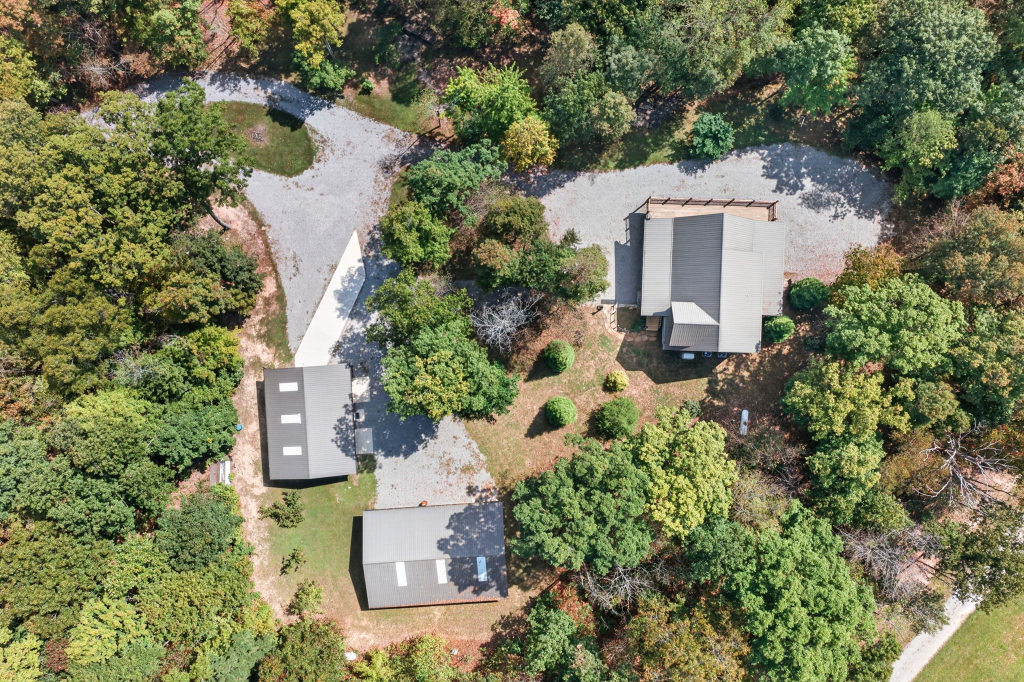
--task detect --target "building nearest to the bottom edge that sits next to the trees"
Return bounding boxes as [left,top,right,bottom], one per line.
[362,498,508,610]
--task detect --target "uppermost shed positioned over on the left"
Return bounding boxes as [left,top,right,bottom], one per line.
[262,364,361,480]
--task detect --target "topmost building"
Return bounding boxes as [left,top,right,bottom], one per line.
[637,196,785,353]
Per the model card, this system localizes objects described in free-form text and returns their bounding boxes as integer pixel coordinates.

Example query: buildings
[262,364,361,480]
[362,498,508,610]
[637,196,785,353]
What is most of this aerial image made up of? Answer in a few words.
trees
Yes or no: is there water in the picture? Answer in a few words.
No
